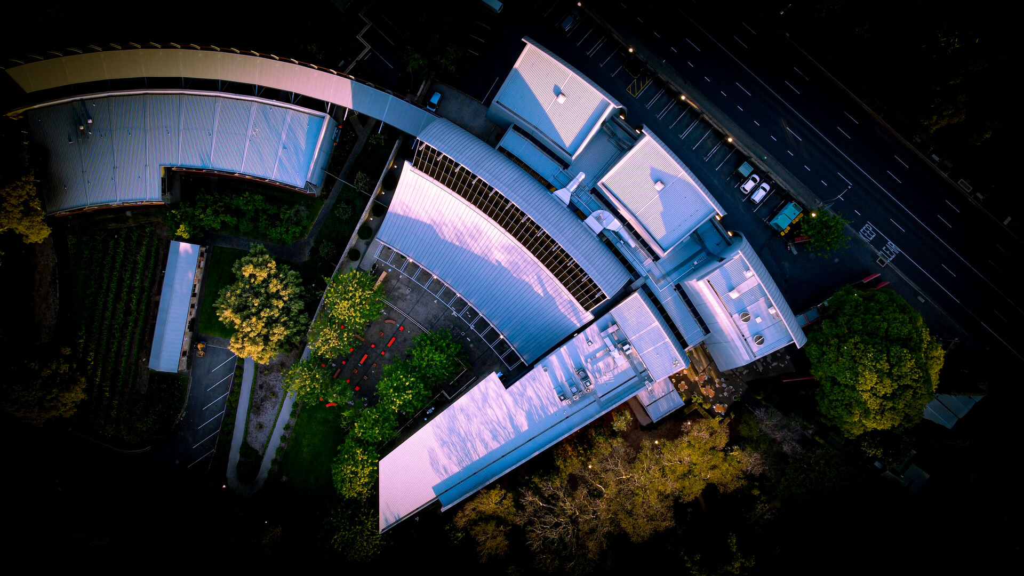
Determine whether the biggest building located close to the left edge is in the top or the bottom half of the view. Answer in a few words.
top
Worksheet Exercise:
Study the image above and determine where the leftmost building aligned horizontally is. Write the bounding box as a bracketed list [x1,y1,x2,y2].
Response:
[20,88,342,218]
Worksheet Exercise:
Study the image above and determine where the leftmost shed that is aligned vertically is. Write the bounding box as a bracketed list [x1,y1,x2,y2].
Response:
[149,240,216,373]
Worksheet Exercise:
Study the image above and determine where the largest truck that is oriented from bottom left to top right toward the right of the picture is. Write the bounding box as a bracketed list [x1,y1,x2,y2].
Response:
[773,203,803,232]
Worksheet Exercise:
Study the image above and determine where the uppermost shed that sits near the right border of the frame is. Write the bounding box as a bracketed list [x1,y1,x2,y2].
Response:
[917,392,983,428]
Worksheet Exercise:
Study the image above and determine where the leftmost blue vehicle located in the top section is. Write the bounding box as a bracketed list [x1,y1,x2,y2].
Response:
[428,90,441,111]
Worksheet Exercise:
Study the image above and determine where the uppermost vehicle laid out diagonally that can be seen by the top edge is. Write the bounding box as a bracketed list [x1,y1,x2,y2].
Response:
[560,9,579,30]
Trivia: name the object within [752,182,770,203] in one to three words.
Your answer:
car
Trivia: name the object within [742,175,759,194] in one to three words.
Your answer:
car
